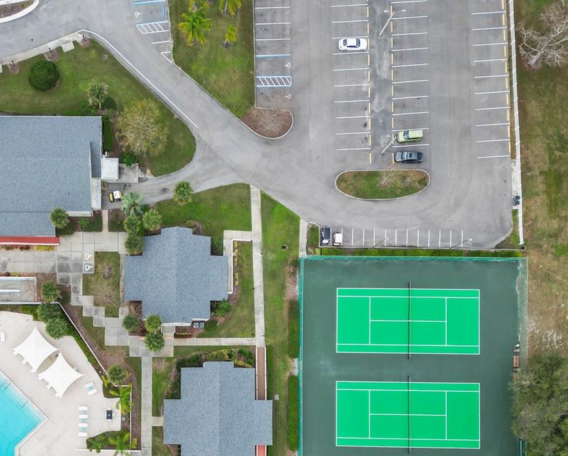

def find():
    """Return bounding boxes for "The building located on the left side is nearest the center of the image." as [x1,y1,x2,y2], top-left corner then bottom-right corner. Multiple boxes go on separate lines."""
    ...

[125,227,228,322]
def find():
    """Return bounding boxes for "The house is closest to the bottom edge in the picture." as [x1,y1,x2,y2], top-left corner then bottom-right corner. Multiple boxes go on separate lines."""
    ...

[164,362,273,456]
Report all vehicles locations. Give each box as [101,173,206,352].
[339,34,368,49]
[396,149,424,163]
[108,189,123,200]
[323,225,333,242]
[398,128,424,142]
[333,230,344,246]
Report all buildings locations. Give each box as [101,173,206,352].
[164,362,273,456]
[0,115,118,246]
[125,227,228,322]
